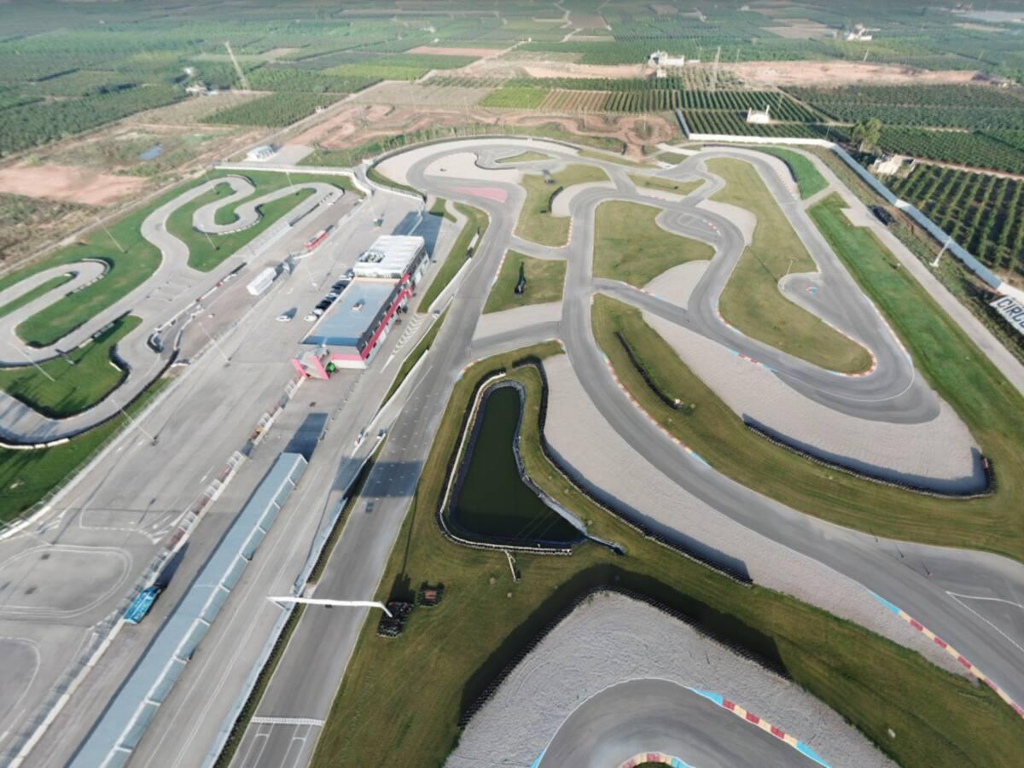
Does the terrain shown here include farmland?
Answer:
Yes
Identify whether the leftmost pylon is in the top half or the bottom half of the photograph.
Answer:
top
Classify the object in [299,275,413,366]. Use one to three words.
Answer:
building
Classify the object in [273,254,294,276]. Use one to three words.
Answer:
truck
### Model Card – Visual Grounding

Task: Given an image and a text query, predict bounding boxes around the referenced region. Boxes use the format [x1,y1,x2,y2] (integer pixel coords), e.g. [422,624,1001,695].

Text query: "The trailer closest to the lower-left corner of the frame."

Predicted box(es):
[104,578,163,629]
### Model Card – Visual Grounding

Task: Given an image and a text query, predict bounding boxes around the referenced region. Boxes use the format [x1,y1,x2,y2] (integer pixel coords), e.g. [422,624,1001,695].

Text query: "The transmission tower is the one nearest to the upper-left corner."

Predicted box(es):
[227,47,249,88]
